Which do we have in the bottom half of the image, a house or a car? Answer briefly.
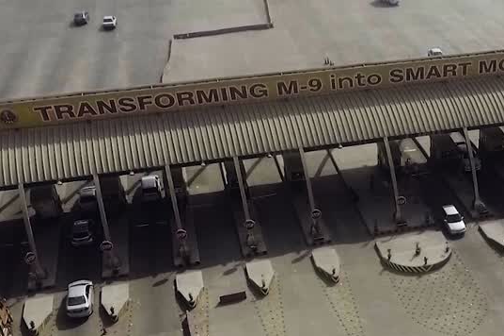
car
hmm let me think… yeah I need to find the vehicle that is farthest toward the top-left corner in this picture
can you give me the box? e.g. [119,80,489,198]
[74,11,91,25]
